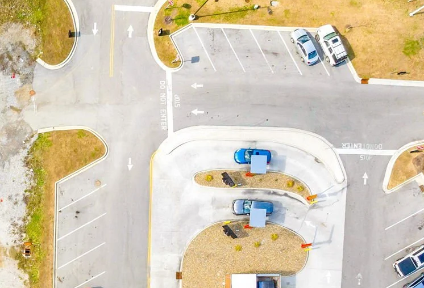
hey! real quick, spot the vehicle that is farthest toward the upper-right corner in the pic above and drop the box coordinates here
[316,24,349,68]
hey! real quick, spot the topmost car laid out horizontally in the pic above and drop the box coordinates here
[232,146,272,166]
